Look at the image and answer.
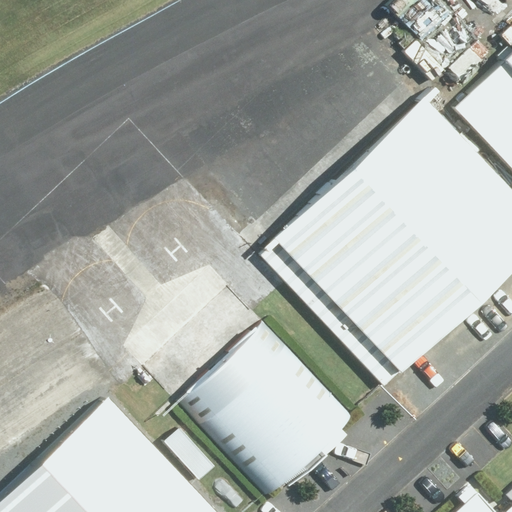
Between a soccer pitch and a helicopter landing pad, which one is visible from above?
helicopter landing pad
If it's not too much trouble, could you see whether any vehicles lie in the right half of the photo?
Yes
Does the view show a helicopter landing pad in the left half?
Yes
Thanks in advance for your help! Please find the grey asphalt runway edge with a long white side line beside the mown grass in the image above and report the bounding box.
[0,0,288,156]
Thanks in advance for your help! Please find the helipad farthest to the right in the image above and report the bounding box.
[98,180,286,318]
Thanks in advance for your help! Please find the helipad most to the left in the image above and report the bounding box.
[30,226,151,387]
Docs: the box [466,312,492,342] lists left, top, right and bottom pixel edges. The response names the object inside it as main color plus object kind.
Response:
white car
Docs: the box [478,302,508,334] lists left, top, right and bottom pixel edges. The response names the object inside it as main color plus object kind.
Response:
gray car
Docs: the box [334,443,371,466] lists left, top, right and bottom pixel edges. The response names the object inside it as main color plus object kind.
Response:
white car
